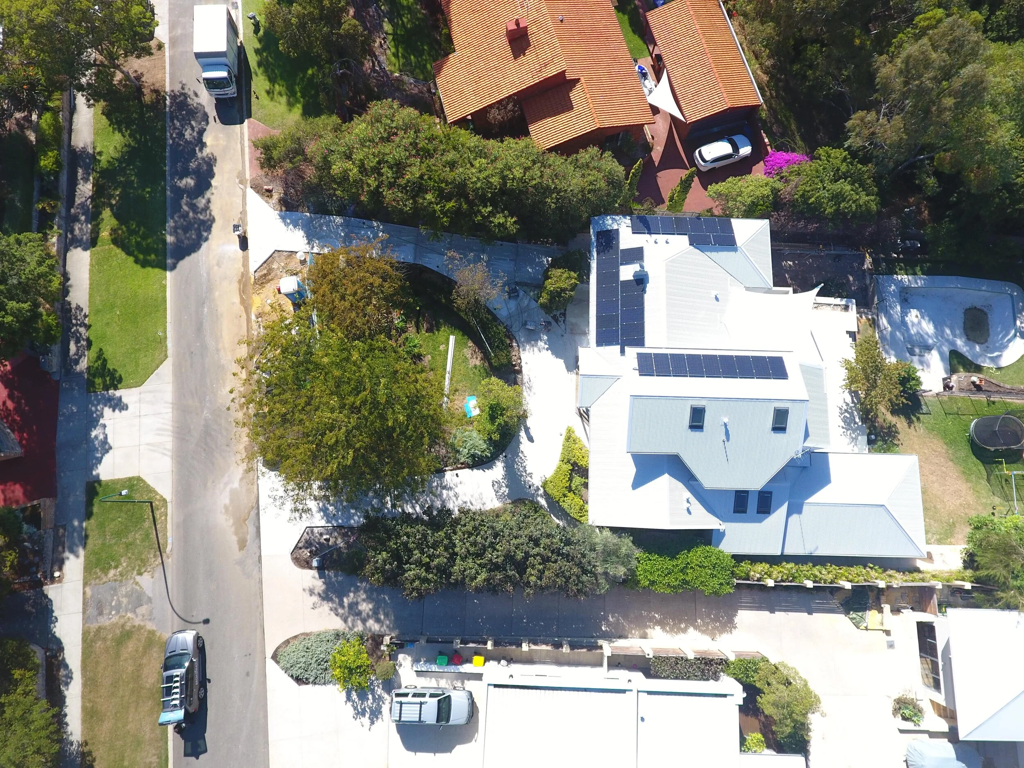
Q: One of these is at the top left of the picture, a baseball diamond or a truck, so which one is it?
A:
truck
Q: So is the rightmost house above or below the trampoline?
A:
below it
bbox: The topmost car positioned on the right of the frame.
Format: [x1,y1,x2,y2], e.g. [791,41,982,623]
[690,131,757,175]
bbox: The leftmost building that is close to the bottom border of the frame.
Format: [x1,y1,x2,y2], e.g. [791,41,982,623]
[481,651,749,768]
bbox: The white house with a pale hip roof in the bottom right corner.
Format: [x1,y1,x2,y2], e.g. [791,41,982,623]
[887,606,1024,743]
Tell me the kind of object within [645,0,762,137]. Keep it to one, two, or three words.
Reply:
building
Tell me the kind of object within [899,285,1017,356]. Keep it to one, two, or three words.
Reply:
swimming pool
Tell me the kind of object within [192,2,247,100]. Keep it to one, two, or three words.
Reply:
truck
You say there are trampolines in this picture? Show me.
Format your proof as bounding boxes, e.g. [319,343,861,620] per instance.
[962,409,1024,452]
